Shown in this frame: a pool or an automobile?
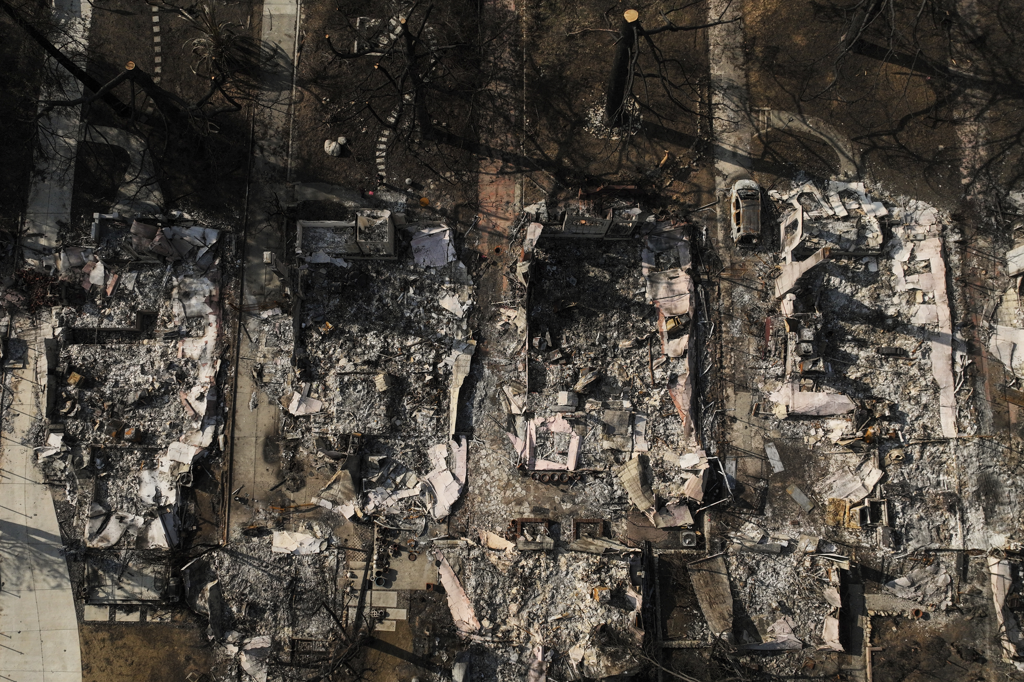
automobile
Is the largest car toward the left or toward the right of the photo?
right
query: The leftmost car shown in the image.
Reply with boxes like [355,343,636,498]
[731,181,764,249]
